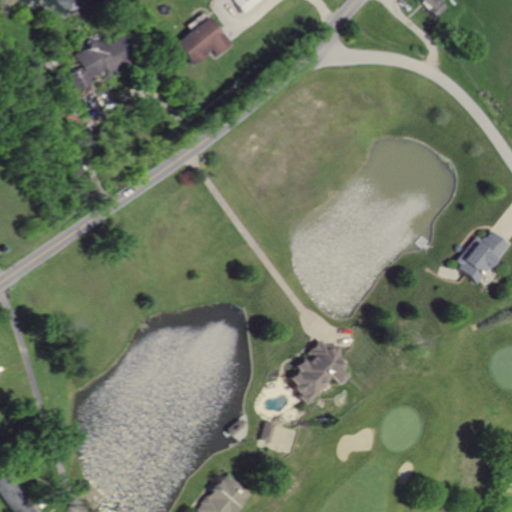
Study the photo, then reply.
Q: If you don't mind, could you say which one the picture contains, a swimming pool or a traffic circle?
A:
swimming pool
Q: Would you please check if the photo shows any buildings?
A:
Yes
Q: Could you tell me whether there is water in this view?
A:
Yes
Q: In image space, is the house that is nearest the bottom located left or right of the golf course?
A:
to the left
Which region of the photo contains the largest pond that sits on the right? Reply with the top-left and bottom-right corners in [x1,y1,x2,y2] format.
[290,137,455,318]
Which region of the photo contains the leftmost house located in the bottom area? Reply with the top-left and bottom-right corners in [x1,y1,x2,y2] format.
[194,474,265,512]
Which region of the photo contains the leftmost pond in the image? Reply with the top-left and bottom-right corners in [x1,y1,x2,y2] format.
[72,303,250,512]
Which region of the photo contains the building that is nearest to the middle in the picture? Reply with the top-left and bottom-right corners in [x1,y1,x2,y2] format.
[286,343,350,400]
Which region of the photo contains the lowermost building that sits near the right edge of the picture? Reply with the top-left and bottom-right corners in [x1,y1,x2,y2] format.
[456,232,508,280]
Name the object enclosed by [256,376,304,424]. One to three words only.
swimming pool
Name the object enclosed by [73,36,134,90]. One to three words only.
house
